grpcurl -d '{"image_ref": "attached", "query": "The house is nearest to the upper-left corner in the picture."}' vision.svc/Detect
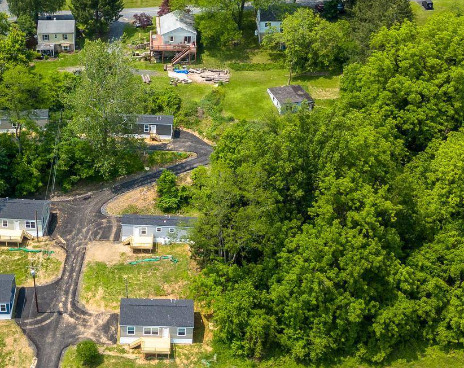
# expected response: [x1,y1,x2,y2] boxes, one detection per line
[35,15,75,58]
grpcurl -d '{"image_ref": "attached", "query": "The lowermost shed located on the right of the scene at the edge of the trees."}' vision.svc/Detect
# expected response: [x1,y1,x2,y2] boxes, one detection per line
[266,81,313,114]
